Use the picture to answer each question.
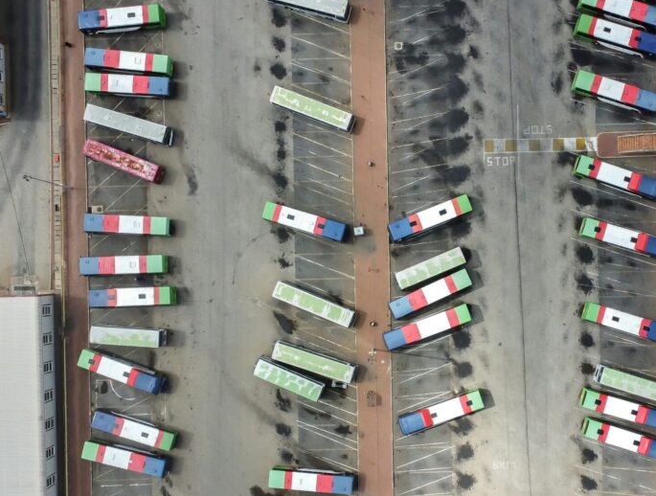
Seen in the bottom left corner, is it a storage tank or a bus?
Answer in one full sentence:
The one visible in the bottom left corner is a bus.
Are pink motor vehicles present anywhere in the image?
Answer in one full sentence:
Yes, you can see a pink motor vehicle in this photo.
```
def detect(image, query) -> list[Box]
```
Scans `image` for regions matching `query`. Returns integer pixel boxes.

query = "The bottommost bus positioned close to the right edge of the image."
[577,415,656,458]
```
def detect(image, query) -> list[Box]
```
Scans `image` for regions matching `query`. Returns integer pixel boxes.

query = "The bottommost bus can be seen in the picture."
[270,466,357,495]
